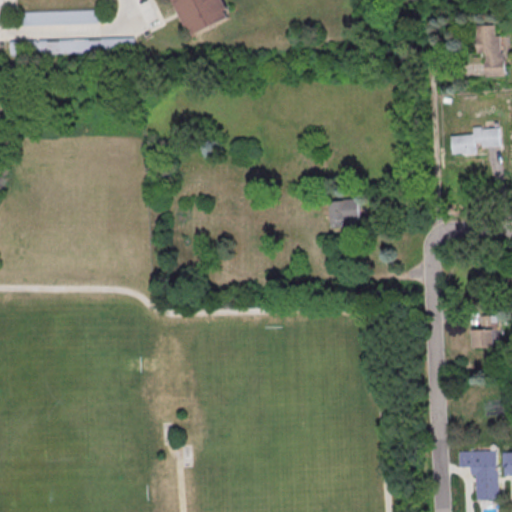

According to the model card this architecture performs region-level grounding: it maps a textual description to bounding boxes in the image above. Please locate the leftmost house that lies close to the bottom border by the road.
[459,451,499,500]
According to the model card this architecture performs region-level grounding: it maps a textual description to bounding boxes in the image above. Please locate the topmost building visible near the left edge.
[16,10,104,26]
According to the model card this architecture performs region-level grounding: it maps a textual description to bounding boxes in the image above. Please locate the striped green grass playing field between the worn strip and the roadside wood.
[186,320,384,512]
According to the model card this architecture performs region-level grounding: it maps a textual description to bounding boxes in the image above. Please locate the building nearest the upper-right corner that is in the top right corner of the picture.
[466,24,510,78]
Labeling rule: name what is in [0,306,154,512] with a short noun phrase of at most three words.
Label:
soccer field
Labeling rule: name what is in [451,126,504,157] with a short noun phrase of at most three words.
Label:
house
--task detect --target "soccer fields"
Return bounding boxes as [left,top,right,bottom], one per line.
[0,306,154,512]
[186,320,384,512]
